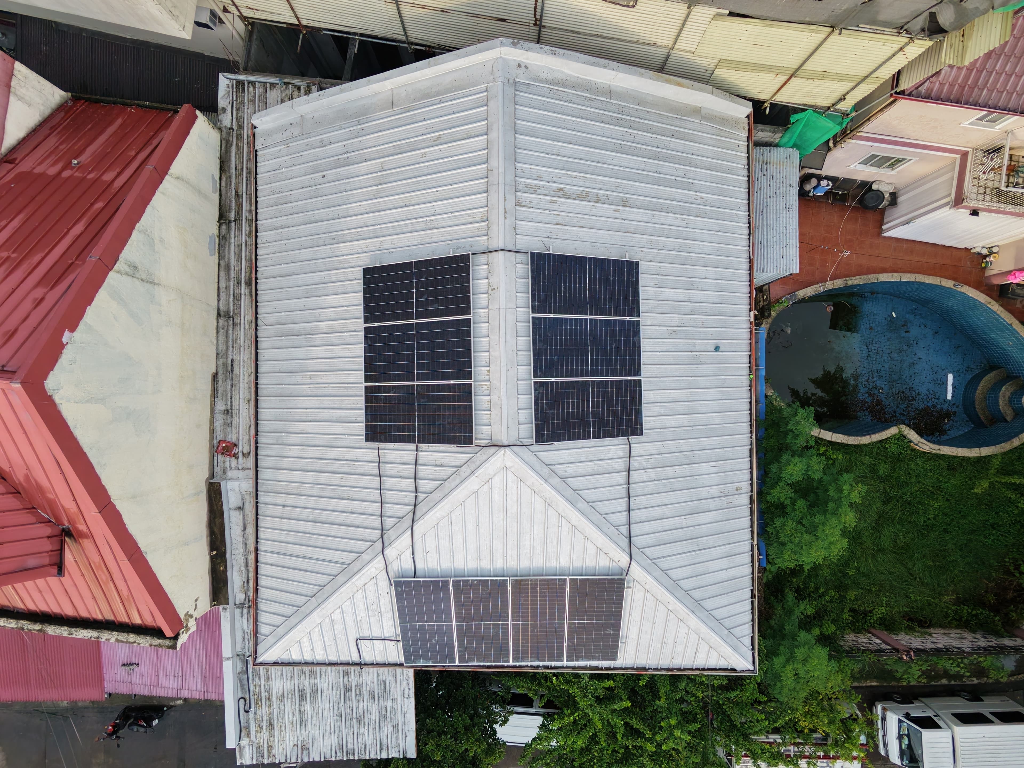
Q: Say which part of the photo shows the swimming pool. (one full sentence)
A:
The swimming pool appears toward the right of the photo.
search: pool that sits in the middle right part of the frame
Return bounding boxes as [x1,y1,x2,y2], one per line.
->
[761,272,1024,458]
